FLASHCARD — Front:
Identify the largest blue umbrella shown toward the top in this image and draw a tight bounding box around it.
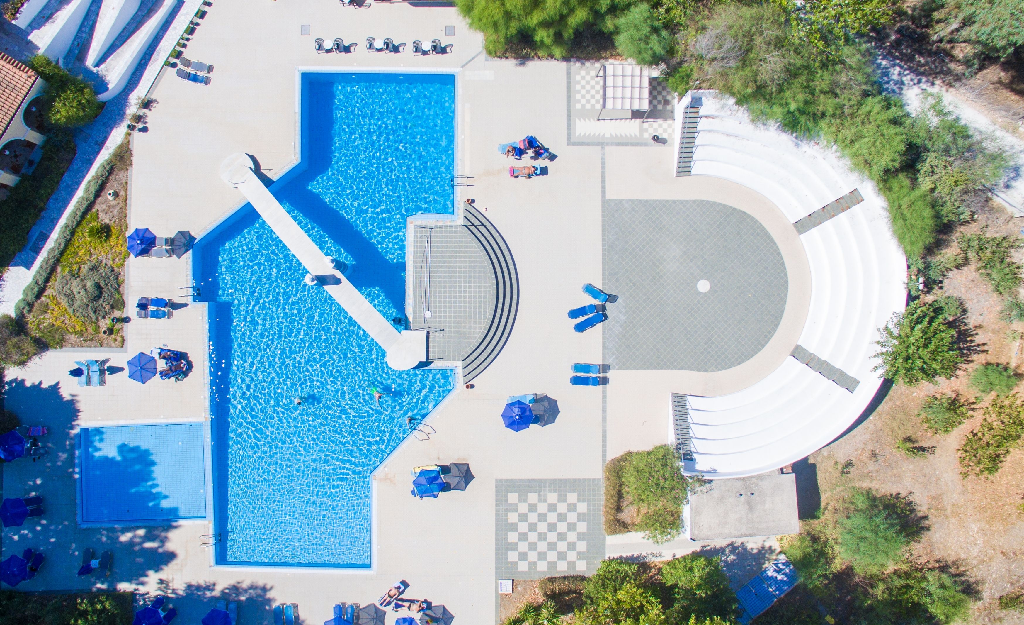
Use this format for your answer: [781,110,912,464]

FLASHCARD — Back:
[127,227,160,258]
